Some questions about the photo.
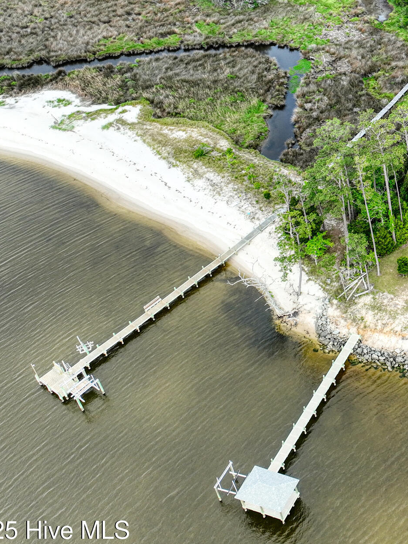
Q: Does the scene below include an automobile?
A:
No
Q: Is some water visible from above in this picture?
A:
Yes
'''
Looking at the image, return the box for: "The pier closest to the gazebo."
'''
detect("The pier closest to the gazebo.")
[276,333,357,466]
